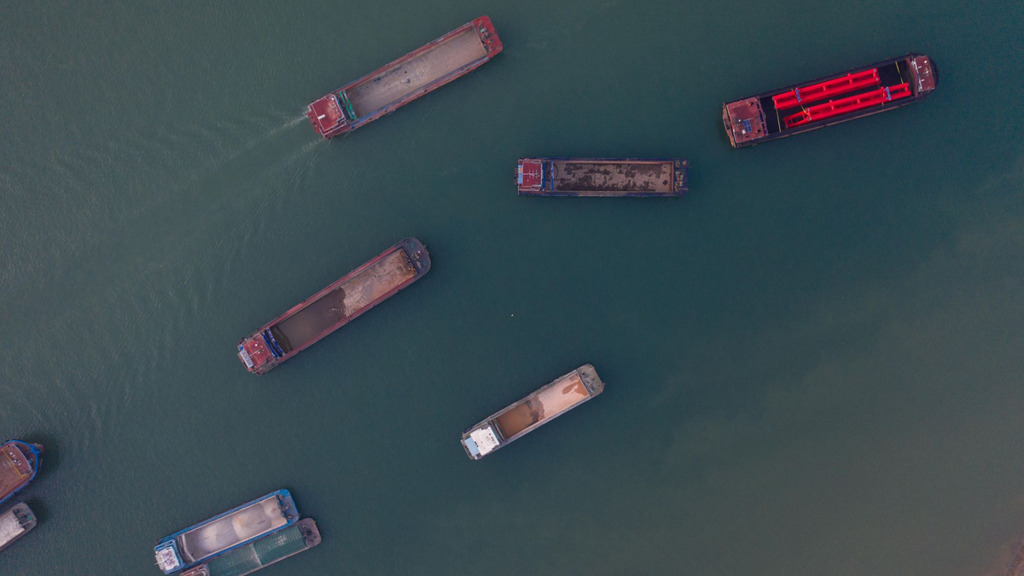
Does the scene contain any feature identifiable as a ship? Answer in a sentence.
Yes, there is a ship in the image.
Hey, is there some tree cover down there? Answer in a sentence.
No, the scene doesn't show any tree cover.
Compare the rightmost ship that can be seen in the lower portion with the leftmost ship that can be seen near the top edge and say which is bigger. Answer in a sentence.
The leftmost ship that can be seen near the top edge is larger than the rightmost ship that can be seen in the lower portion.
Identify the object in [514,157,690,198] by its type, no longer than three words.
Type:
ship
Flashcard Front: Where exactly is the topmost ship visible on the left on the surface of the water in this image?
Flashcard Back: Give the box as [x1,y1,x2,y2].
[309,15,502,139]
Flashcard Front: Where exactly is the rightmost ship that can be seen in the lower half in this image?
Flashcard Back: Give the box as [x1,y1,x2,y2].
[460,364,607,460]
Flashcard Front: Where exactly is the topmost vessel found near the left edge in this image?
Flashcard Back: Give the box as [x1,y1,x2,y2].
[0,441,44,504]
